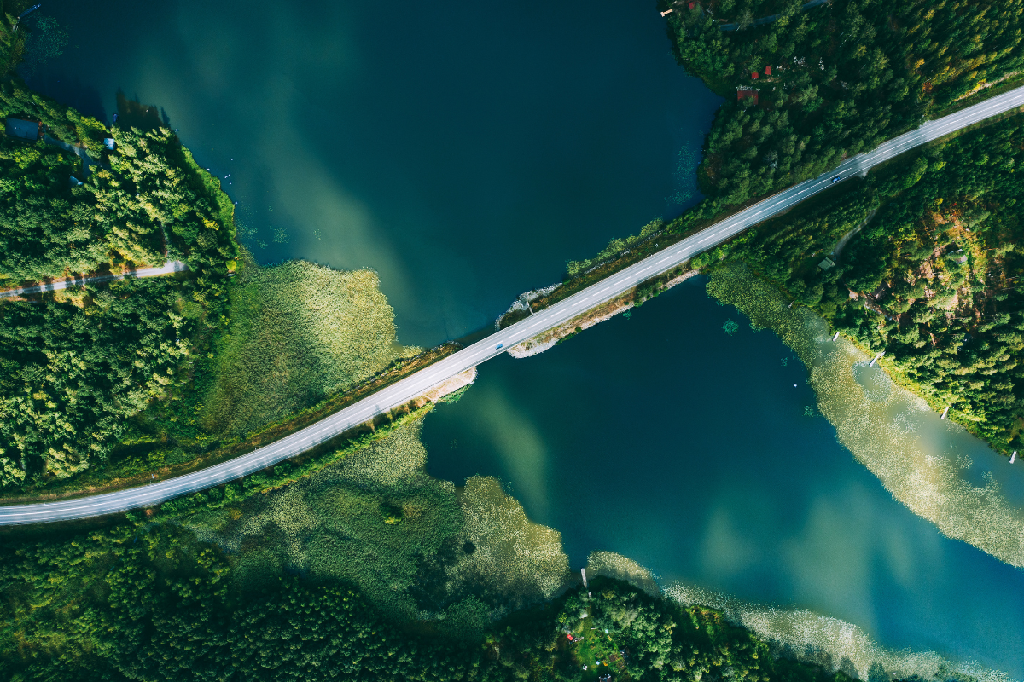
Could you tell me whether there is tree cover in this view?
Yes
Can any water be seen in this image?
Yes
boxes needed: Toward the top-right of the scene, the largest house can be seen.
[736,90,759,106]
